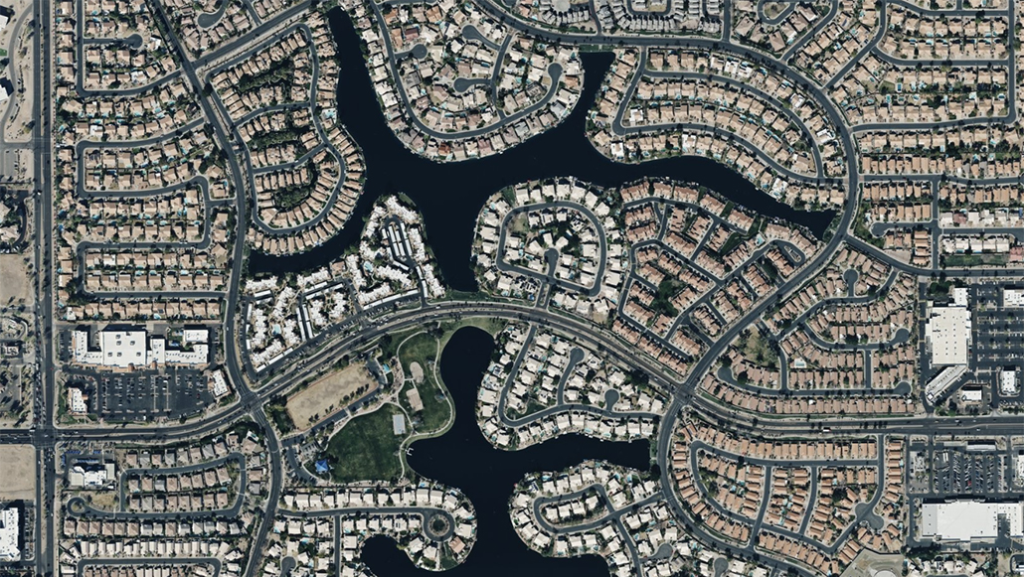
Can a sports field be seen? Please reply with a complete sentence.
Yes, the picture does show a sports field.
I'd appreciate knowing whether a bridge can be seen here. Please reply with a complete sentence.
No, there isn't any bridge down there.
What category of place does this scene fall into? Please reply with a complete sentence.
It's a residential area.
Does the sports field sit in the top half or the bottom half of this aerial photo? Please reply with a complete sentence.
The sports field is in the bottom half of the image.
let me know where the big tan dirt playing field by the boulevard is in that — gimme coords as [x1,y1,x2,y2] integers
[288,365,377,428]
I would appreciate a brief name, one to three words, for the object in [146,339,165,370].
building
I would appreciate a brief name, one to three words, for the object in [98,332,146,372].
building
